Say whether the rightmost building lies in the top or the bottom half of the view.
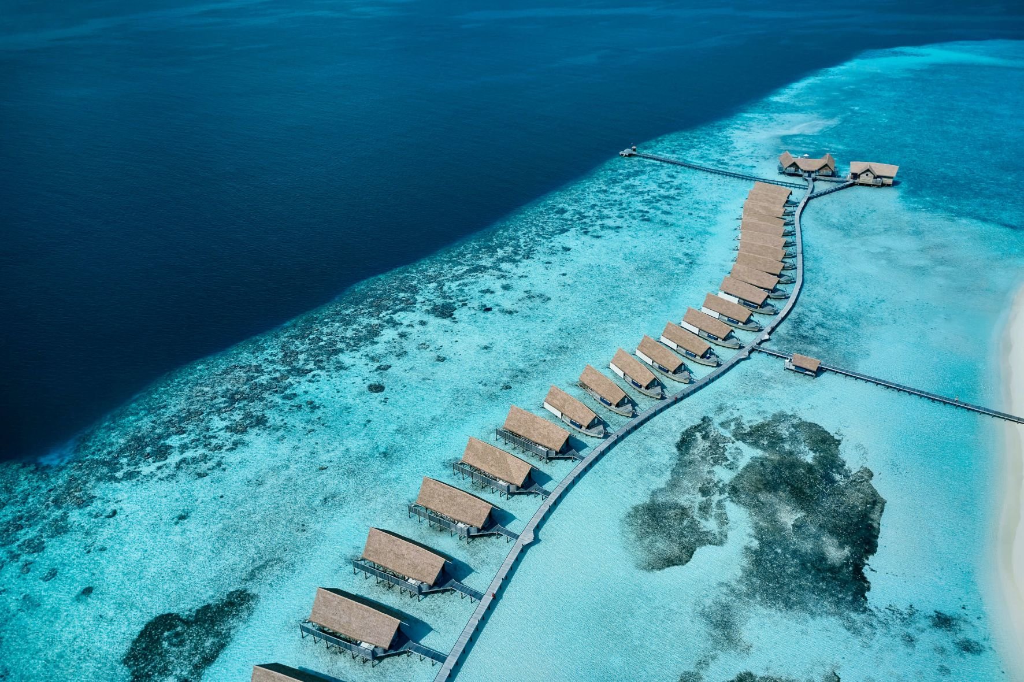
top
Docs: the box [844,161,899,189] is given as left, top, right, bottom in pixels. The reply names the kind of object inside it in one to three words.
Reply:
building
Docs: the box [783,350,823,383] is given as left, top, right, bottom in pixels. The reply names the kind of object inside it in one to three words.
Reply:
shed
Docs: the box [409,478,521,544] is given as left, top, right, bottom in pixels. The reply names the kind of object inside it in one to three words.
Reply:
house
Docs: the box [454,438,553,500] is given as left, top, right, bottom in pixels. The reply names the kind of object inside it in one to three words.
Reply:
house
